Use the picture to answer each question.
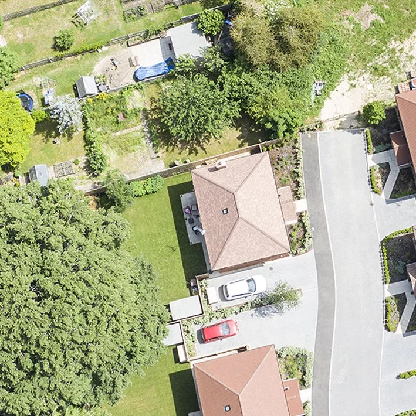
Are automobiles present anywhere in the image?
Yes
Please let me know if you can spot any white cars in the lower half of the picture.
Yes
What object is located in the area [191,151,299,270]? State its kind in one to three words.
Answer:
house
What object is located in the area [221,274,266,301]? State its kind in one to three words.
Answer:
car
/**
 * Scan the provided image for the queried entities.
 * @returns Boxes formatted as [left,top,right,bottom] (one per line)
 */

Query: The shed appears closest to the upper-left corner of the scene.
[77,76,101,99]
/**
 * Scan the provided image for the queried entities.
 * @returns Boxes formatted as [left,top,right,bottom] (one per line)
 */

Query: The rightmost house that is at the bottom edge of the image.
[193,345,307,416]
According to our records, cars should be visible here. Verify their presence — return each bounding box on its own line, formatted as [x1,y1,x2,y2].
[201,319,240,344]
[221,274,266,301]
